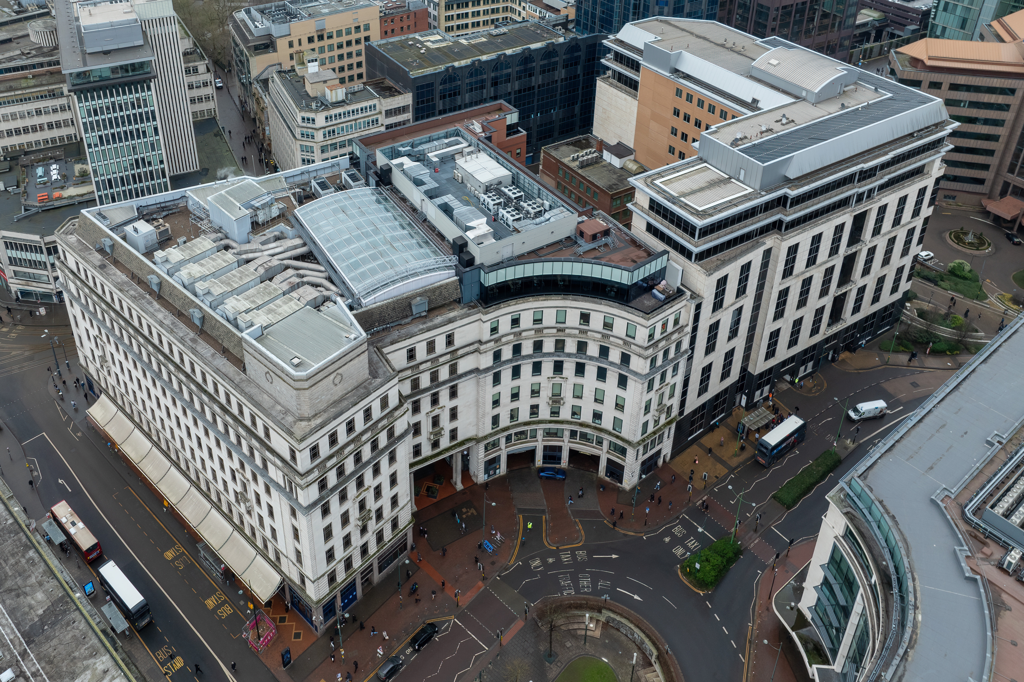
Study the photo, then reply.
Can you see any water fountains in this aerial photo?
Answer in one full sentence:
Yes, you can see a water fountain in this photo.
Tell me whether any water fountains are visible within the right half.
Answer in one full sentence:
Yes, a water fountain is visible within the right half.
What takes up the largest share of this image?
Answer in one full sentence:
For the most part, this view shows buildings.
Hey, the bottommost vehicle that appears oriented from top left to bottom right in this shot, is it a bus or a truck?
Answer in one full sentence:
The bottommost vehicle that appears oriented from top left to bottom right in the image is a bus.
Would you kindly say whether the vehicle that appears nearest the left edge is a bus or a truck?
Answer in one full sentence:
I'd identify the vehicle that appears nearest the left edge as a bus.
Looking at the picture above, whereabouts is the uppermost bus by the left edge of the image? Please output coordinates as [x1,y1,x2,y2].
[51,503,103,563]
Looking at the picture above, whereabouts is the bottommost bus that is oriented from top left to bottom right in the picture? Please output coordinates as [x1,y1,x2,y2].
[96,561,155,635]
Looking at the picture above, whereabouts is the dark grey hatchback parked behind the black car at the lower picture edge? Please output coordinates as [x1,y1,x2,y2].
[374,653,403,682]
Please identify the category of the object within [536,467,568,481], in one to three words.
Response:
car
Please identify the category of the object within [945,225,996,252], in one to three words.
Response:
fountain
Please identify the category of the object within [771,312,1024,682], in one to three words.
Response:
building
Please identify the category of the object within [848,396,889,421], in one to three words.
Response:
vehicle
